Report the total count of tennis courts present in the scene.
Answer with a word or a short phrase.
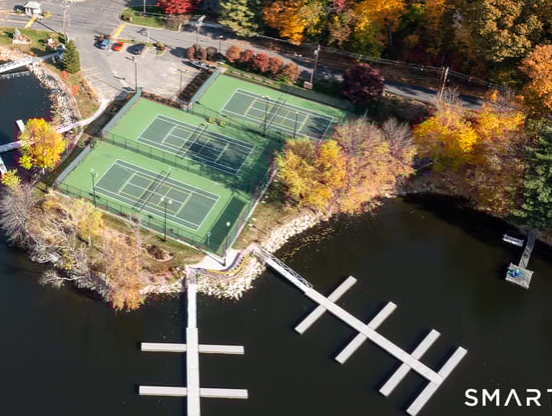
3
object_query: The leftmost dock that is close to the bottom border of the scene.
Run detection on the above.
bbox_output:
[139,325,248,416]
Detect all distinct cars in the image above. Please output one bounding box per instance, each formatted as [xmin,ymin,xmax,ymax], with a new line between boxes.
[98,41,113,51]
[131,45,145,54]
[111,41,125,50]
